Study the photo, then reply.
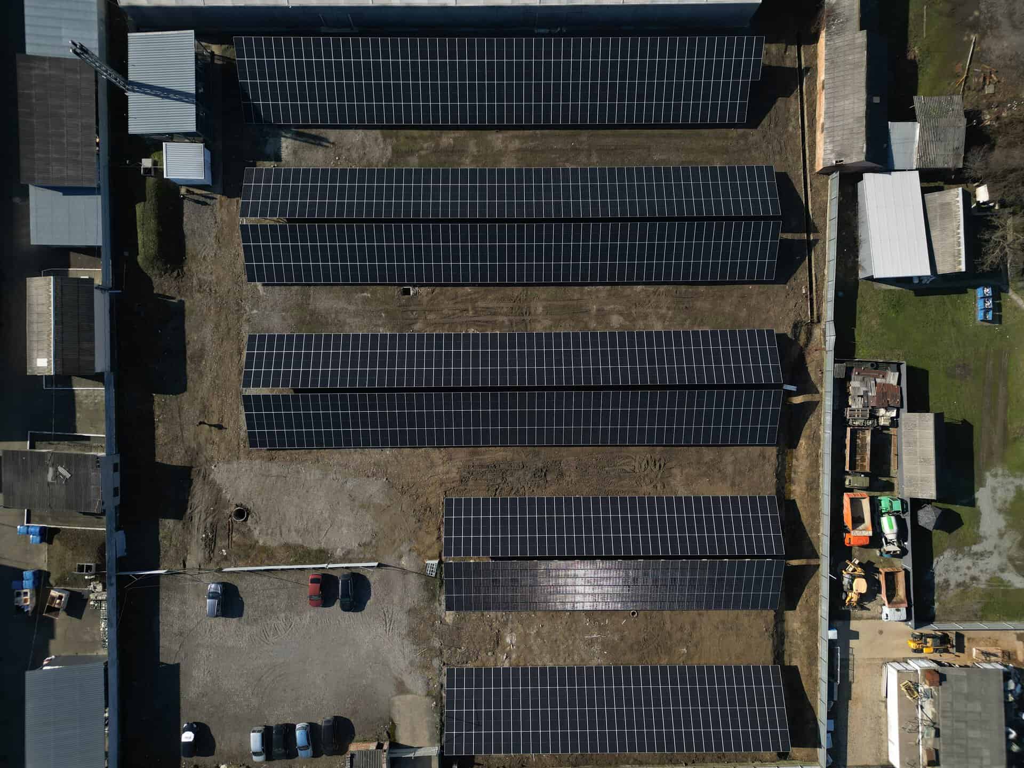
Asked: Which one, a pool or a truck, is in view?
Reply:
truck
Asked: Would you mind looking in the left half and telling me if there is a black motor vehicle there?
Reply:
Yes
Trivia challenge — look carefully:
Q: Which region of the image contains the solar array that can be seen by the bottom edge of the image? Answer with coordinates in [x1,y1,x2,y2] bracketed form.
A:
[444,665,790,754]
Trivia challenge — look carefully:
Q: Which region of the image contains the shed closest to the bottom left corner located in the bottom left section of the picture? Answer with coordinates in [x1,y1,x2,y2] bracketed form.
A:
[25,652,118,768]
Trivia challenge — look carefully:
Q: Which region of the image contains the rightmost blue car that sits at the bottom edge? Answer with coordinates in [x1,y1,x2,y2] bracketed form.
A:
[295,721,313,756]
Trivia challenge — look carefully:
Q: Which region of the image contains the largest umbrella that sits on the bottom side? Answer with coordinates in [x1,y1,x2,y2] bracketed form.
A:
[914,501,944,529]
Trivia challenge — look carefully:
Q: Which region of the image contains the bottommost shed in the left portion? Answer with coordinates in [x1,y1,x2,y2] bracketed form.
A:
[348,740,391,768]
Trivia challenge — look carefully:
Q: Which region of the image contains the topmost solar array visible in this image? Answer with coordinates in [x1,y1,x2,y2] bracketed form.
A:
[234,36,764,123]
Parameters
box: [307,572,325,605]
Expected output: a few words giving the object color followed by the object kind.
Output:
red car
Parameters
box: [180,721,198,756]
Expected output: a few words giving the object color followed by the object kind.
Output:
black car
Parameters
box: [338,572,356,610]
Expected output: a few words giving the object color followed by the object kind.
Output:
black car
